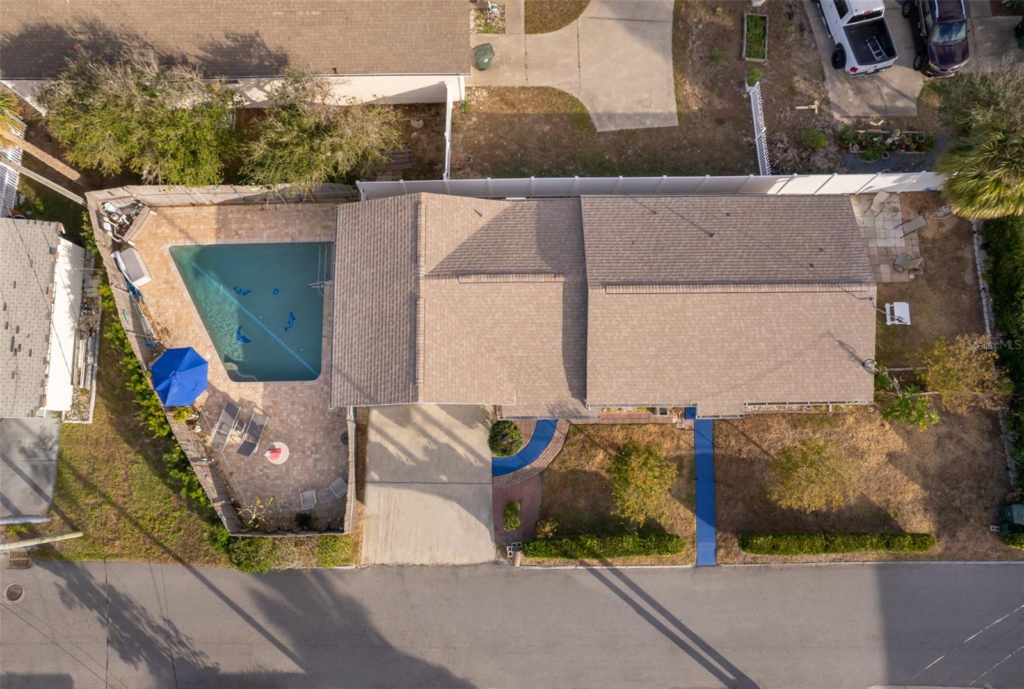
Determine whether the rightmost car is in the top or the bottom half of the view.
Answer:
top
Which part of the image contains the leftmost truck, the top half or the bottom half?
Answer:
top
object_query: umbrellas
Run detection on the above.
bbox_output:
[157,350,216,408]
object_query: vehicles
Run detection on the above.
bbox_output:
[903,0,970,82]
[828,0,904,80]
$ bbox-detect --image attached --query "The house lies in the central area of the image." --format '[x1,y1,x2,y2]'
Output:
[326,191,875,424]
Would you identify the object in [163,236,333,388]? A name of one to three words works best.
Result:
swimming pool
